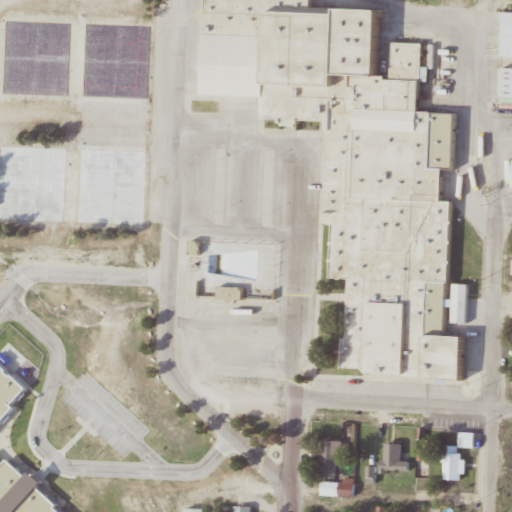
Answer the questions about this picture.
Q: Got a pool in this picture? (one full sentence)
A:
Yes, you can see a pool in this photo.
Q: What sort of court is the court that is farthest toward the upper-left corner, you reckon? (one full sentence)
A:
The court that is farthest toward the upper-left corner can be classified as a tennis court.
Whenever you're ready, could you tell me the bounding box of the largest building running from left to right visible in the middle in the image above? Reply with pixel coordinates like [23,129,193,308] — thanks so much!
[194,278,274,302]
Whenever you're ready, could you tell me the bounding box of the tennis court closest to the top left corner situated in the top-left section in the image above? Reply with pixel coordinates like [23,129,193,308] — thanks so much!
[4,22,71,96]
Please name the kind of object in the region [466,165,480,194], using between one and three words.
vehicle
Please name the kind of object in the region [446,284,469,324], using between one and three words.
building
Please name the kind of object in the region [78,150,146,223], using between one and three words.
sports court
